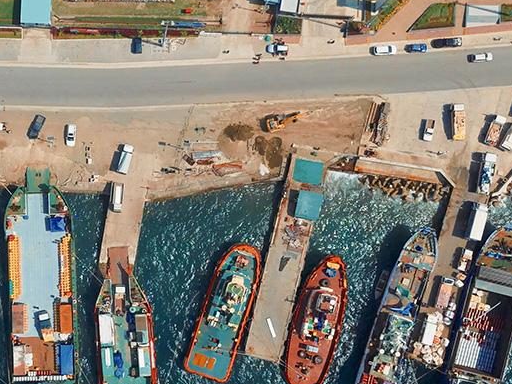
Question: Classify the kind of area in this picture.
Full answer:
The area seen from above is a port.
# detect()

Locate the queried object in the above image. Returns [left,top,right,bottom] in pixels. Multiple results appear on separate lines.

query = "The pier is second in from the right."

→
[241,147,332,364]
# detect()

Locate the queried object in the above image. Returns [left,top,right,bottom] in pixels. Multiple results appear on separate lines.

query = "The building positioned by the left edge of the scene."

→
[21,0,52,29]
